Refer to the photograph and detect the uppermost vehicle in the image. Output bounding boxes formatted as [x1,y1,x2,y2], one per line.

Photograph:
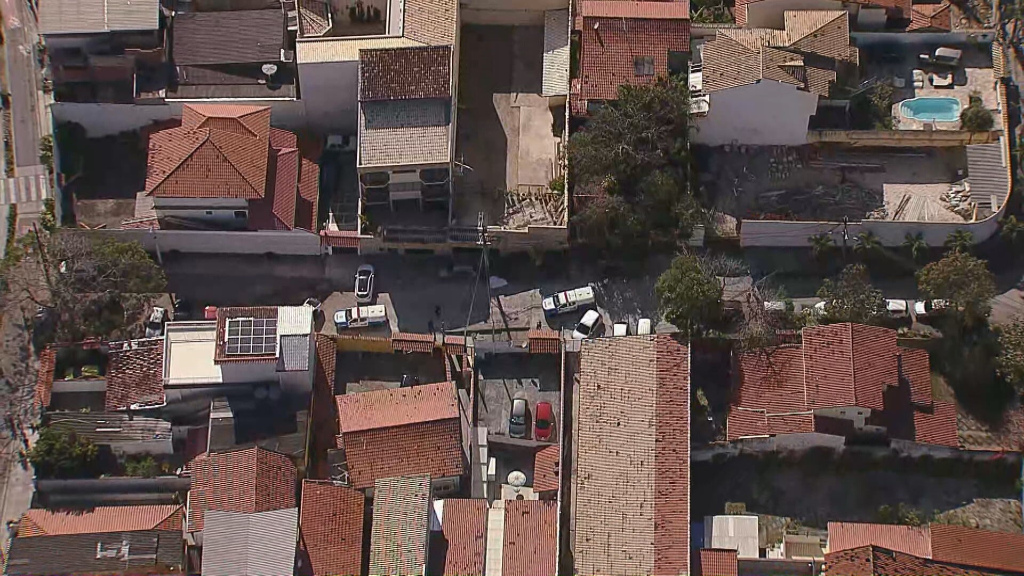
[321,135,359,155]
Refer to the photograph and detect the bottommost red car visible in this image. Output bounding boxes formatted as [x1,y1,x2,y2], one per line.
[534,405,554,442]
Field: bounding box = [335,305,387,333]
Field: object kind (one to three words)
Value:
truck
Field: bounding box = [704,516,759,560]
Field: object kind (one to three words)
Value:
shed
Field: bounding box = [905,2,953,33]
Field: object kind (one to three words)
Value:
house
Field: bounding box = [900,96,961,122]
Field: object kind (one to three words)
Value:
swimming pool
